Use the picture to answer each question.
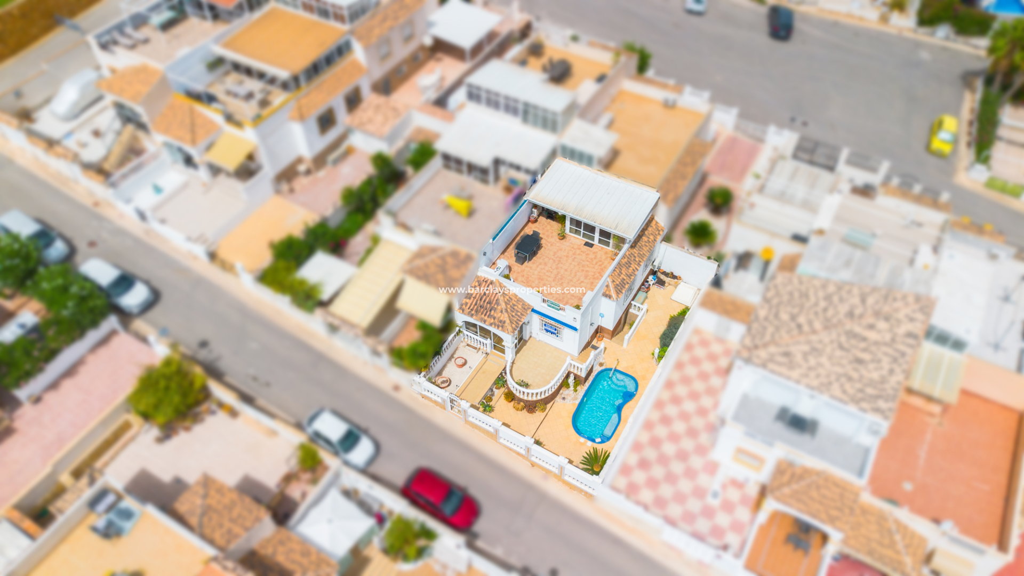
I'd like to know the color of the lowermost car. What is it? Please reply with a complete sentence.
The lowermost car looks red in the image.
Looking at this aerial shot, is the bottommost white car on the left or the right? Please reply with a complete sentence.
The bottommost white car sits on the left side.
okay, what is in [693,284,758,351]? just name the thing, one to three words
shed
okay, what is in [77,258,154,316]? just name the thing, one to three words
car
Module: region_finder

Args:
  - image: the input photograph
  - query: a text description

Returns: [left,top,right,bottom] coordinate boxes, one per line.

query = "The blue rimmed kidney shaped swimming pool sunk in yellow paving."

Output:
[572,355,637,443]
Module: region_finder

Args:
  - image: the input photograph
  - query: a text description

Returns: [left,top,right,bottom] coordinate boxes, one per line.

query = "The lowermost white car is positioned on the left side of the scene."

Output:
[299,409,377,472]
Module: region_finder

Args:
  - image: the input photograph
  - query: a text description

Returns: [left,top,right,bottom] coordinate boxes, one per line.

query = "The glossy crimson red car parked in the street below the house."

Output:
[397,468,476,534]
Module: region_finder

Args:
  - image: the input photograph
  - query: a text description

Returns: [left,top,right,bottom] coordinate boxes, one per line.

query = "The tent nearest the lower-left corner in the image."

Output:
[291,481,392,576]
